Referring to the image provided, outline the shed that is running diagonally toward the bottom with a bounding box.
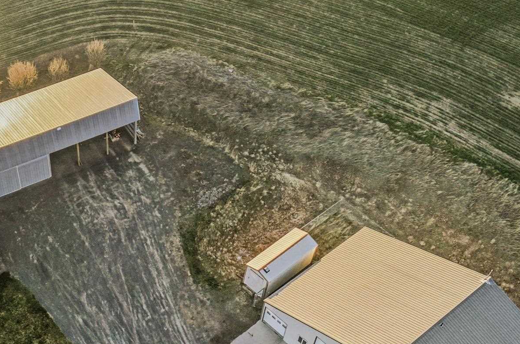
[245,229,318,307]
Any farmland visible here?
Yes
